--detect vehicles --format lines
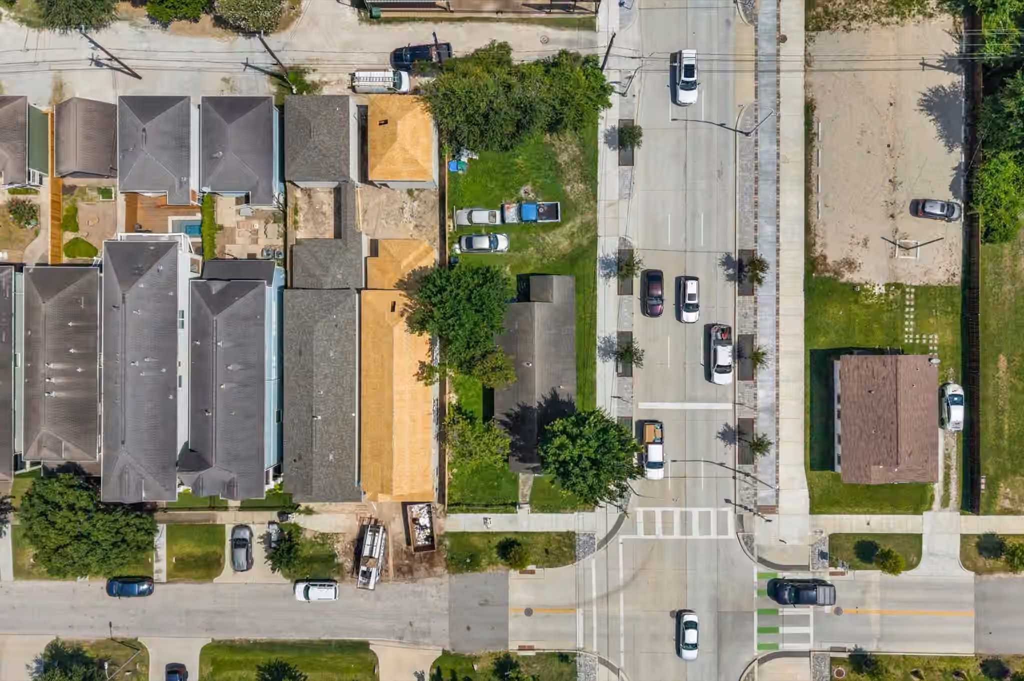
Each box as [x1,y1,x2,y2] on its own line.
[642,270,666,317]
[709,323,735,384]
[393,43,453,71]
[769,578,834,606]
[108,575,156,598]
[350,68,409,94]
[296,579,339,603]
[502,200,561,224]
[456,205,501,228]
[459,231,509,255]
[678,277,702,323]
[675,52,700,104]
[353,522,387,596]
[910,199,957,223]
[166,661,190,681]
[230,523,255,570]
[678,612,701,661]
[938,385,964,431]
[642,420,667,480]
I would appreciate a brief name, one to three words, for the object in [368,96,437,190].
building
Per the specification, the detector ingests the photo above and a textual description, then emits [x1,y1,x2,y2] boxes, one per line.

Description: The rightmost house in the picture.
[830,355,944,486]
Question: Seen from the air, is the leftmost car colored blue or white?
blue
